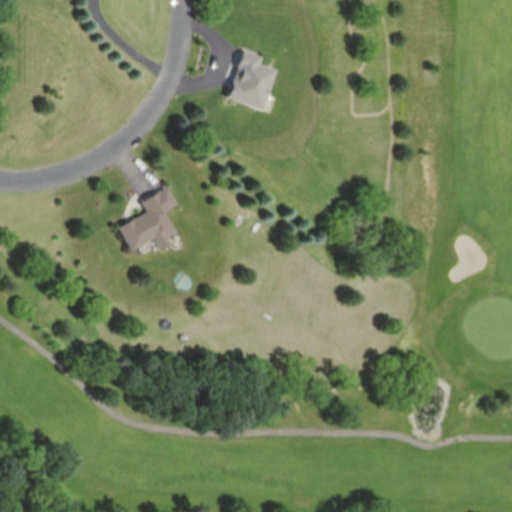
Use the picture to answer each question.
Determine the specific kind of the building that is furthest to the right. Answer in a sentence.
I'd say the building that is furthest to the right is a house.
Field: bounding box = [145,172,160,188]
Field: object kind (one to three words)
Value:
vehicle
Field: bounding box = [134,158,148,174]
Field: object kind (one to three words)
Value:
vehicle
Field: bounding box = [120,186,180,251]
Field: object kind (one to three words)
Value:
house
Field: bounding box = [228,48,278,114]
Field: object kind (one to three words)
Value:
house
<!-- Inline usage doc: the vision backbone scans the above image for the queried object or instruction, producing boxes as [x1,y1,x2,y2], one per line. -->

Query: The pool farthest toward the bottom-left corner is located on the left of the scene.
[174,272,192,291]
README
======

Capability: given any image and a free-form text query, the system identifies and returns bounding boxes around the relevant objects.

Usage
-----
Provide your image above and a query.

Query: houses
[120,186,180,251]
[228,48,278,114]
